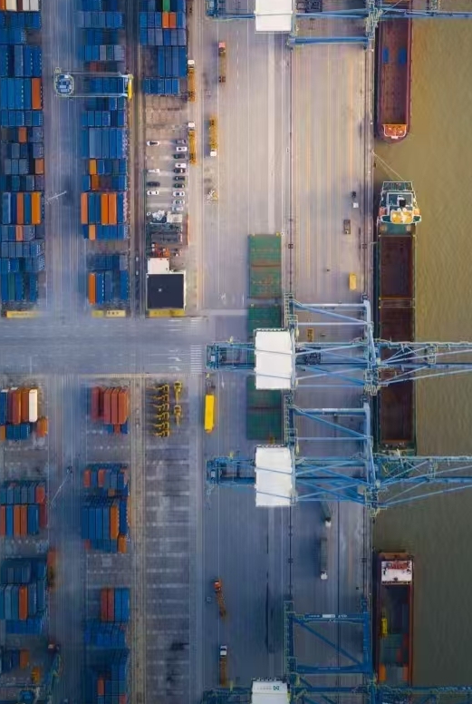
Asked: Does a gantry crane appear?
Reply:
Yes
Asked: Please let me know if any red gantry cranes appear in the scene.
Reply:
No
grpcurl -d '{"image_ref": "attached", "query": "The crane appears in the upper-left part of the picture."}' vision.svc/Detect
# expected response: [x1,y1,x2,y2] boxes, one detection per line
[52,62,136,111]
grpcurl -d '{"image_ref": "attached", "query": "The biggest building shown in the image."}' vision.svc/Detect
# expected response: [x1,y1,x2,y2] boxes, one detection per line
[148,272,187,308]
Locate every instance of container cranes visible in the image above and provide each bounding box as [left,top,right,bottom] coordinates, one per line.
[207,395,472,519]
[52,62,136,111]
[205,0,472,60]
[208,604,472,704]
[207,291,472,397]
